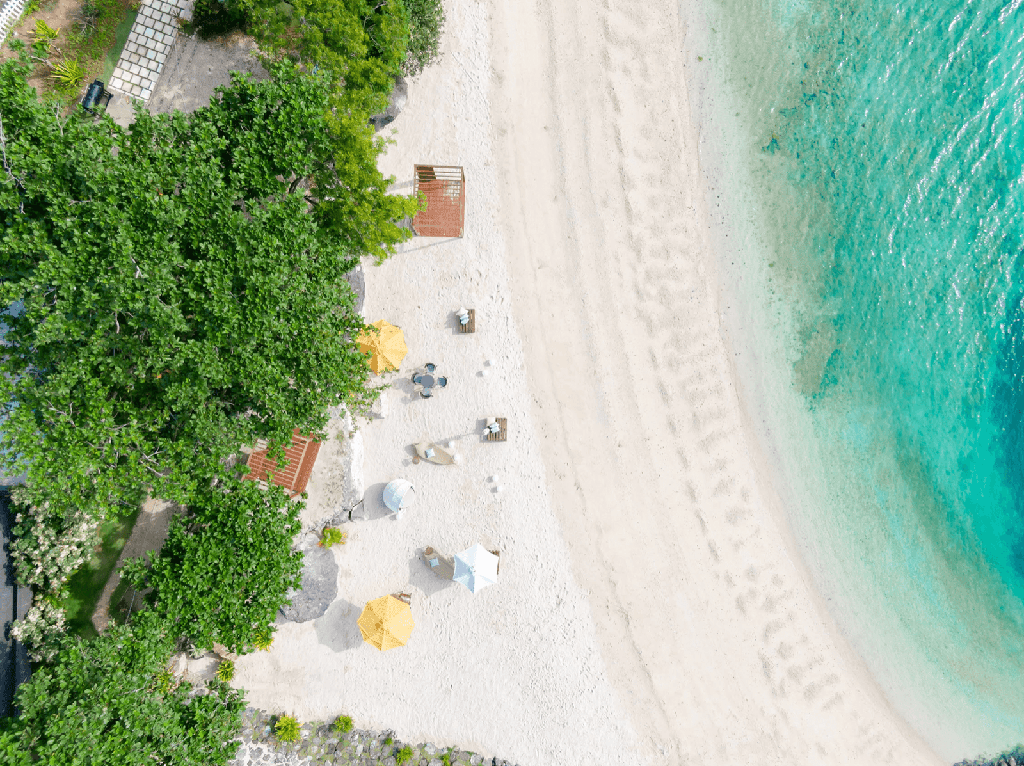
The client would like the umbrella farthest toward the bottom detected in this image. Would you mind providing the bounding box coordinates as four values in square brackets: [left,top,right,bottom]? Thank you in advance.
[357,593,415,652]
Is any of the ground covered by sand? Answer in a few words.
Yes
